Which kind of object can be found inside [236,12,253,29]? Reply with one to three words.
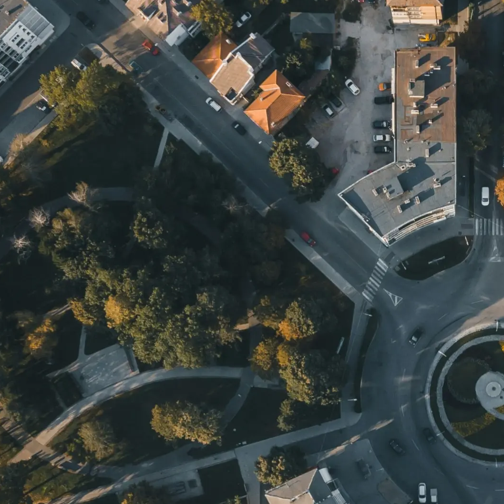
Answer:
car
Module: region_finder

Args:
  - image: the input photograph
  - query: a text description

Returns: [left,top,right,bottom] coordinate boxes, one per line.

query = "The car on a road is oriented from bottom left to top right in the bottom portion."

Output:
[410,328,423,344]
